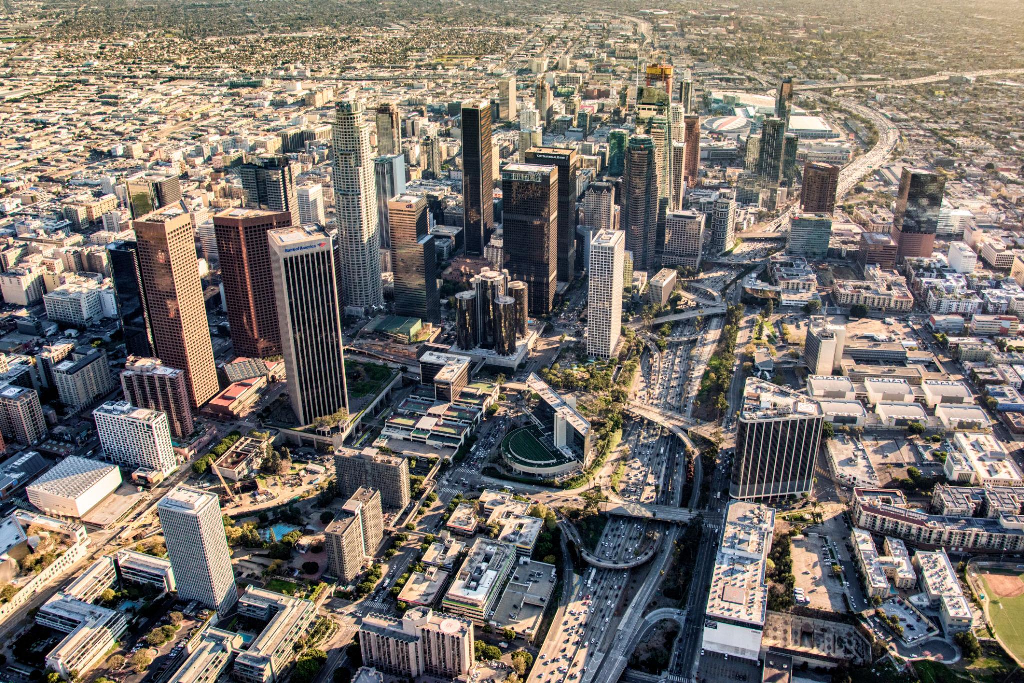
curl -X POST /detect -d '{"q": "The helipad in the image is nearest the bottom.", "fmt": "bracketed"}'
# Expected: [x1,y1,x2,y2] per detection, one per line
[438,615,462,633]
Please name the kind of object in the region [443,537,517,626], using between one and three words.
building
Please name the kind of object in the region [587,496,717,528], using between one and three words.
bridge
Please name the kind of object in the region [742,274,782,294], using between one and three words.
building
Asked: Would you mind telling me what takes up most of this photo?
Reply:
buildings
